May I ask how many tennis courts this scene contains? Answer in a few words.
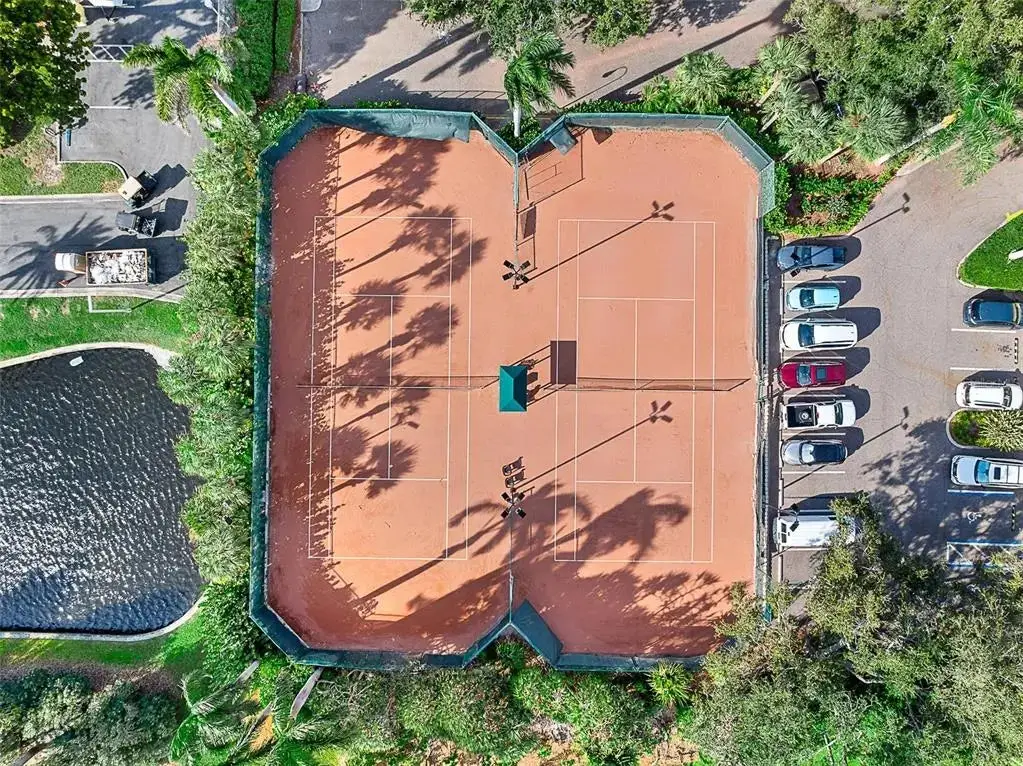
2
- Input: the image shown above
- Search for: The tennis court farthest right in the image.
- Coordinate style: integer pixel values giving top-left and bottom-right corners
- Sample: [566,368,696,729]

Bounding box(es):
[512,132,759,649]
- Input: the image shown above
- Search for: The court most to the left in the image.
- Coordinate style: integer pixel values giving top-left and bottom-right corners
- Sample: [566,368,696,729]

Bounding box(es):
[268,128,515,648]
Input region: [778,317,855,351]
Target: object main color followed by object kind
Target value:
white car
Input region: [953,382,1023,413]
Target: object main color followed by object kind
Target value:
white car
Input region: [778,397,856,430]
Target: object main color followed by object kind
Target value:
white vehicle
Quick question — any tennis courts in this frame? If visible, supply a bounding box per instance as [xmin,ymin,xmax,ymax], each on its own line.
[512,132,759,649]
[268,128,515,648]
